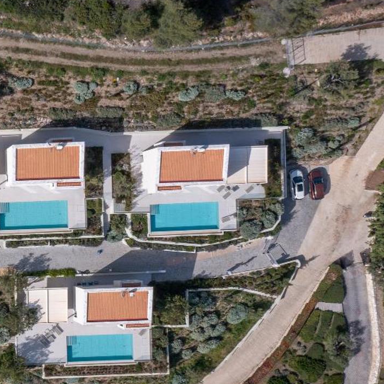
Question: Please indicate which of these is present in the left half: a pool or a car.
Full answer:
It is a pool that can be seen in the left half.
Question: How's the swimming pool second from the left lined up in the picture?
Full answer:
From this overhead view, the swimming pool second from the left appears to run from side to side.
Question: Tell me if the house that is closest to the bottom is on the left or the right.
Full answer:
It is on the left.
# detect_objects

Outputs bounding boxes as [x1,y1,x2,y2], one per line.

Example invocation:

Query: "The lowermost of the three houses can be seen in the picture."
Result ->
[74,280,153,329]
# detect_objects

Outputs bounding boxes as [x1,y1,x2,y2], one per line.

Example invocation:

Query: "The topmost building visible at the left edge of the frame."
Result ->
[6,139,85,191]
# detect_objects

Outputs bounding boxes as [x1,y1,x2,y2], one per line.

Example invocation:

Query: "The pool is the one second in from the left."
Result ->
[67,334,131,362]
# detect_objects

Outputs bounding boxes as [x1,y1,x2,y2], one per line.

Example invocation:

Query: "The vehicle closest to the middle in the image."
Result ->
[289,168,308,199]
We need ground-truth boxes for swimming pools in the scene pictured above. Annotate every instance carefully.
[67,334,131,362]
[150,202,218,233]
[0,201,67,232]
